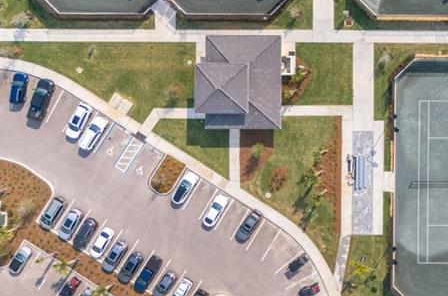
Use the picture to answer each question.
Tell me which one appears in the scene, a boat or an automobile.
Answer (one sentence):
Visible in the photo is an automobile.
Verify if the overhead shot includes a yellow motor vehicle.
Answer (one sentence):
No, the frame has no yellow motor vehicle in it.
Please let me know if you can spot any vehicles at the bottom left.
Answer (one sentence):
Yes, a vehicle appears at the bottom left.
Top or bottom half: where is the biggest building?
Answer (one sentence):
It is in the top half that the biggest building appears.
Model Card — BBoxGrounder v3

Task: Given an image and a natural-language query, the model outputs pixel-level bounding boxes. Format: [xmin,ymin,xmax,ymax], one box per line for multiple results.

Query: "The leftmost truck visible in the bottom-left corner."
[7,243,34,277]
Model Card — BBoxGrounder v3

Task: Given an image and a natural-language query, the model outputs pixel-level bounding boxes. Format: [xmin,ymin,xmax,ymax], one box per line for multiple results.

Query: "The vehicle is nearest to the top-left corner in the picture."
[10,72,29,105]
